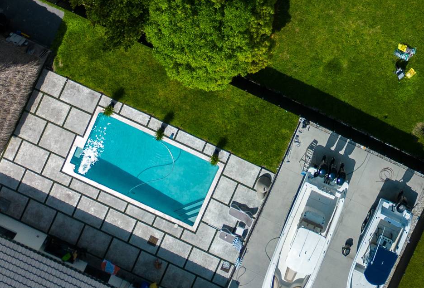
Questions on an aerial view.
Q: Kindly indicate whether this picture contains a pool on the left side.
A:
Yes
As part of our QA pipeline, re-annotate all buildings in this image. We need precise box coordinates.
[0,214,164,288]
[0,29,54,172]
